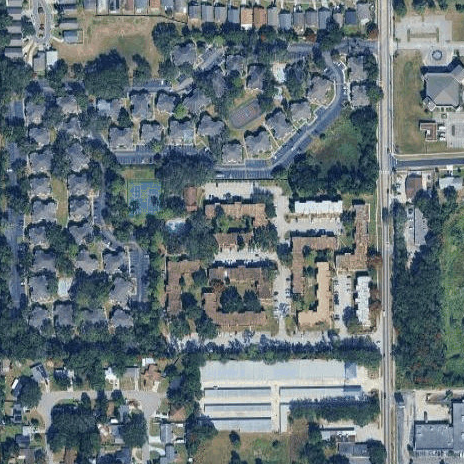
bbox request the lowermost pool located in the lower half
[57,277,71,295]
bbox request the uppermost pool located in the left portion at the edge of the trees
[166,217,185,233]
